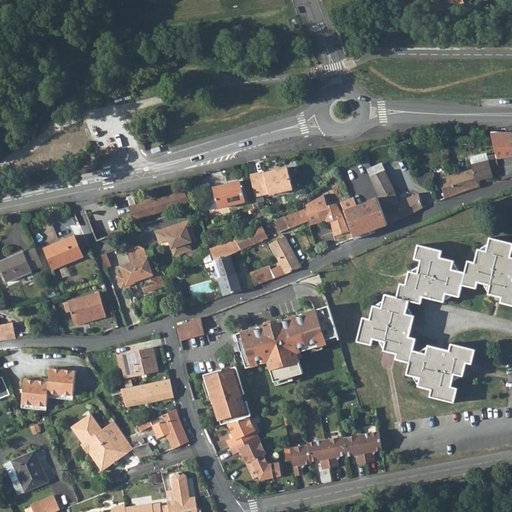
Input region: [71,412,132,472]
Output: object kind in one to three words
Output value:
house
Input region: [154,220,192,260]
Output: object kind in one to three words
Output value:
house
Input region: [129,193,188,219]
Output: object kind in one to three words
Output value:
building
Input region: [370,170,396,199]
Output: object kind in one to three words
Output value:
building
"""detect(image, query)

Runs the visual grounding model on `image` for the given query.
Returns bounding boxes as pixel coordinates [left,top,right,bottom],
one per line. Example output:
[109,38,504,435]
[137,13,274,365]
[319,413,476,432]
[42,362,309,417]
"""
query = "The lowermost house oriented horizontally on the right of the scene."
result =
[284,432,380,478]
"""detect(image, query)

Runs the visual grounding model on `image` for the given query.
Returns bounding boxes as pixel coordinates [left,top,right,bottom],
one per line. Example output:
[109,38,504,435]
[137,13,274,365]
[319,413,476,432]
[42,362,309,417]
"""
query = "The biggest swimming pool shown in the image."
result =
[190,280,213,295]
